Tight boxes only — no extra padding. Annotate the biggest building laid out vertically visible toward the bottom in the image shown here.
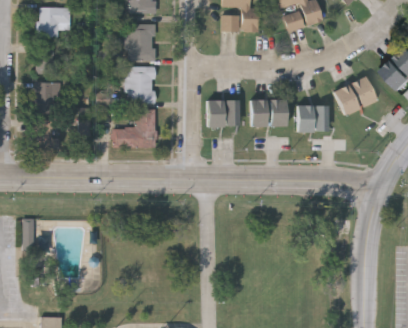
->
[21,218,34,250]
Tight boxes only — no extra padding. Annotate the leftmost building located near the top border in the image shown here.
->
[38,6,70,36]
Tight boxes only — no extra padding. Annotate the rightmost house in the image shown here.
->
[376,48,408,88]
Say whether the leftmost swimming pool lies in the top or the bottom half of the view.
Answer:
bottom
